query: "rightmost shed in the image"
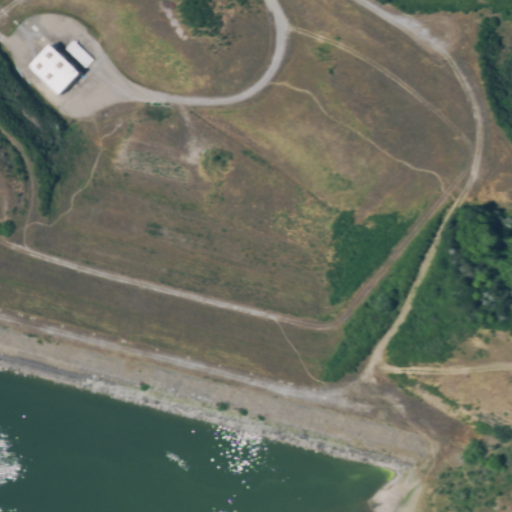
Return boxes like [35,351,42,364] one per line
[66,40,94,68]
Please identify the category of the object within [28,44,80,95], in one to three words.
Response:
building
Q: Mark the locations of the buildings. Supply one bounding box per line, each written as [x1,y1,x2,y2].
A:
[66,40,94,68]
[28,44,80,95]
